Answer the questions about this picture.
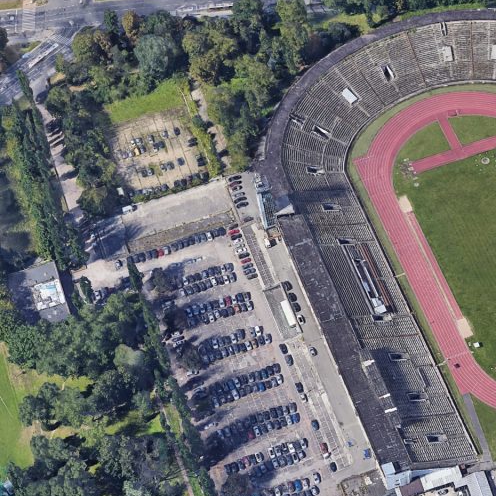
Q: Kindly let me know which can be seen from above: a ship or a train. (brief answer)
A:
train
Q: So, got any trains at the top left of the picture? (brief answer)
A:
Yes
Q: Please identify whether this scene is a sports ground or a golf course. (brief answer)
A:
sports ground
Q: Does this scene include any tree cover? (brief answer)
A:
Yes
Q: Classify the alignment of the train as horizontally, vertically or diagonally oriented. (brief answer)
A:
diagonally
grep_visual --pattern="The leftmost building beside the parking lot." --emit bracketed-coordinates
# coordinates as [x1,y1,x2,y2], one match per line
[10,261,68,329]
